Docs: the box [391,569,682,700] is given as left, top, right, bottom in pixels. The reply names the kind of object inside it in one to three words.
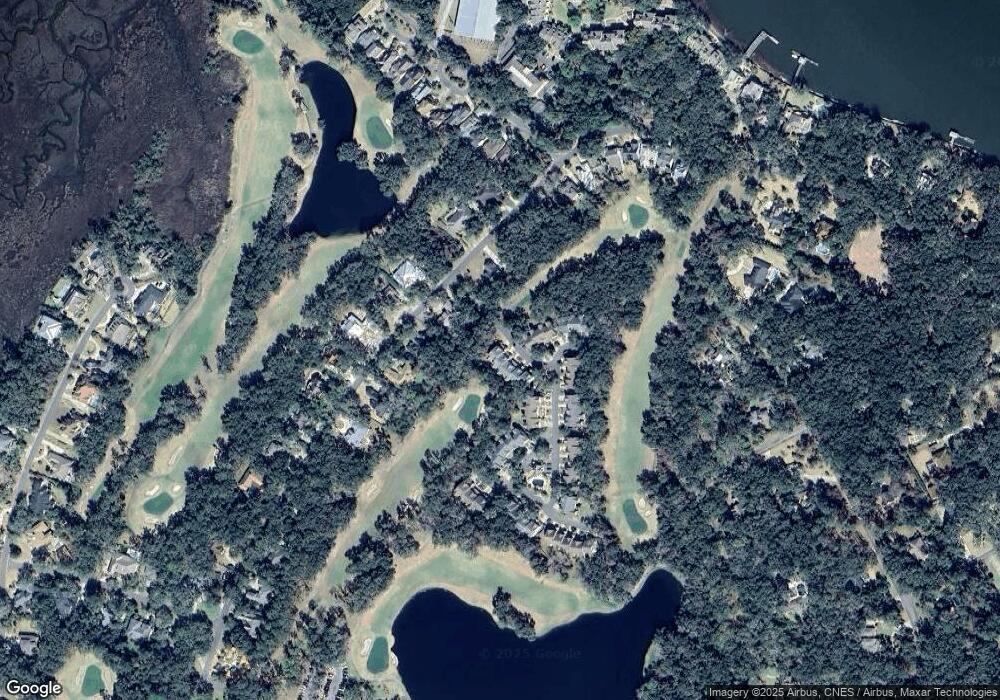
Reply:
pond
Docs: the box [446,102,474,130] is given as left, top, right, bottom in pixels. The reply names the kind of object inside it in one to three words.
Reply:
house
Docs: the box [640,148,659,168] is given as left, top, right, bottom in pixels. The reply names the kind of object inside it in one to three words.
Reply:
house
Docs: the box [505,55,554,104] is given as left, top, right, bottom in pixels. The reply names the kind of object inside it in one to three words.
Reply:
building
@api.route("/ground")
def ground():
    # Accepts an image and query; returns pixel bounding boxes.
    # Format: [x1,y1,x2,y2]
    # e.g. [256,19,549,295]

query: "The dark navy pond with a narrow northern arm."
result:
[292,62,396,236]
